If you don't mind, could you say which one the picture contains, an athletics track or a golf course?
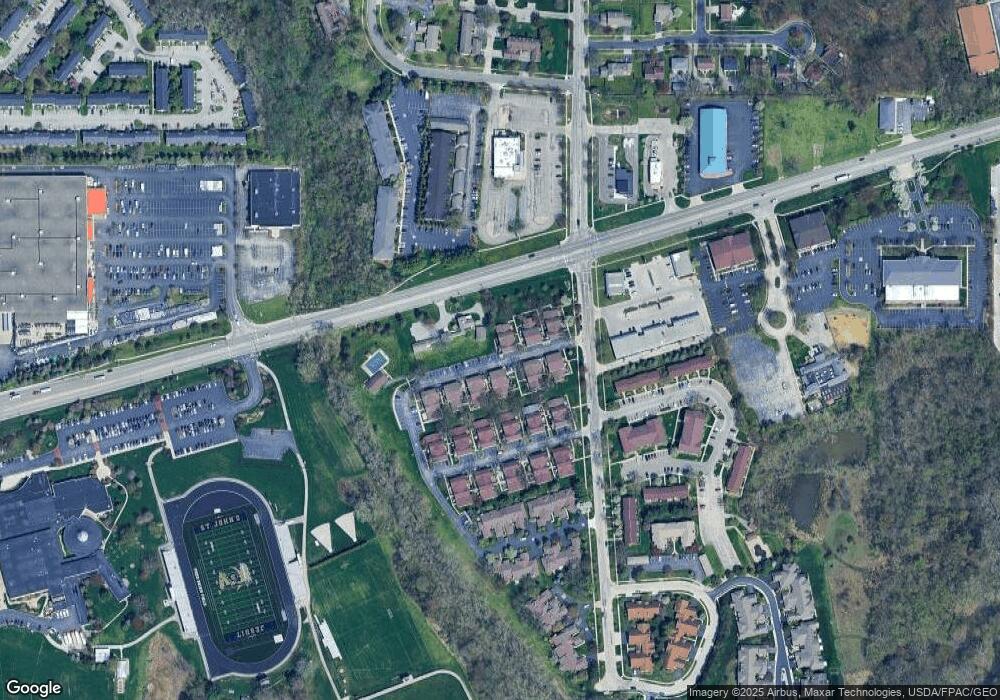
athletics track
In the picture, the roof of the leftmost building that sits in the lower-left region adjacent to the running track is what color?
blue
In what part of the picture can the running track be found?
bottom left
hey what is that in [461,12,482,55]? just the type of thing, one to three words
house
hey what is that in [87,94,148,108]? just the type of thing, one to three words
building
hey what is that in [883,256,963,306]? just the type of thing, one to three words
building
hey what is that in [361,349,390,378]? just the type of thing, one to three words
swimming pool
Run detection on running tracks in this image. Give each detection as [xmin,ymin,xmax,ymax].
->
[164,478,299,679]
